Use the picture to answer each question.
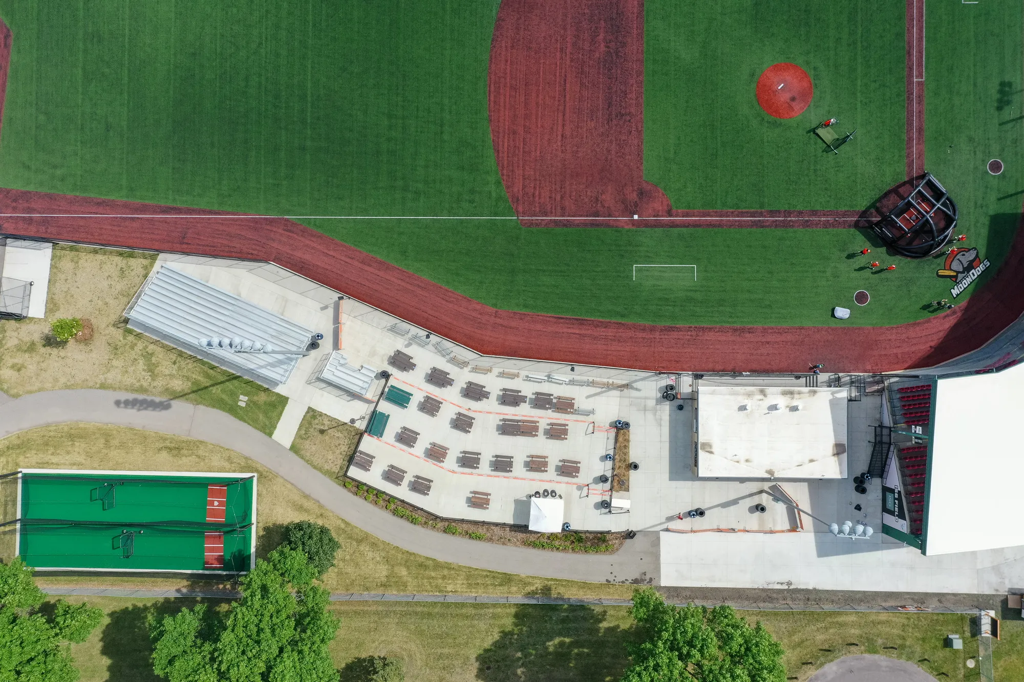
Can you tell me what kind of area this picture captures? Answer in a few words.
sports ground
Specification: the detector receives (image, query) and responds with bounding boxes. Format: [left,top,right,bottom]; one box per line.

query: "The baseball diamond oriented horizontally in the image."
[0,0,1024,374]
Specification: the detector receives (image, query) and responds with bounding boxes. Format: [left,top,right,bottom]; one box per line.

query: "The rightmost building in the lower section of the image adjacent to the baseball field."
[692,386,848,481]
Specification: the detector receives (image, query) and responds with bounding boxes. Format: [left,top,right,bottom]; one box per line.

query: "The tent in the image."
[528,493,564,532]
